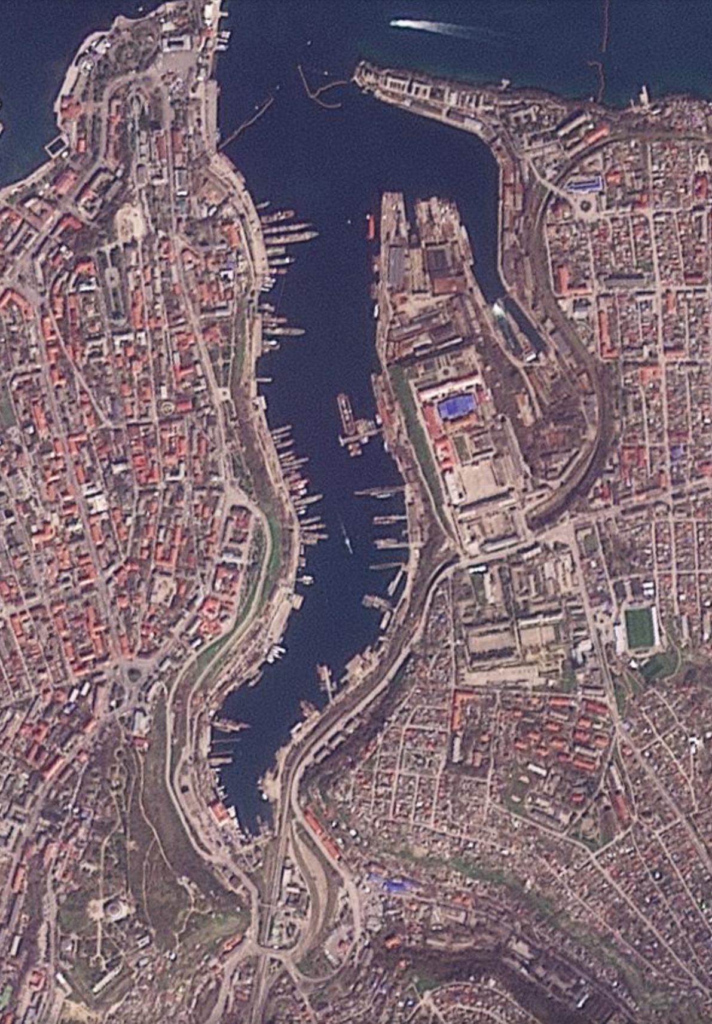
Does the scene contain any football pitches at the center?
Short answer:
No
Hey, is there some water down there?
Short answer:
Yes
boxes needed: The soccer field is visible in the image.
[626,608,655,649]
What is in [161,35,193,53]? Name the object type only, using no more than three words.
building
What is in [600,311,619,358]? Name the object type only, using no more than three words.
building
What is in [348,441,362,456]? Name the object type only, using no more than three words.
ship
